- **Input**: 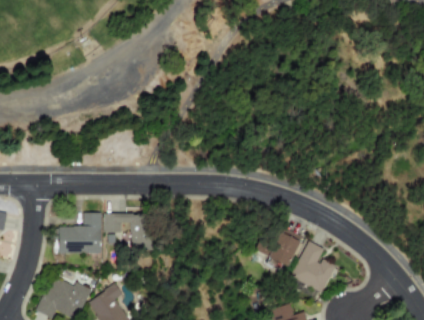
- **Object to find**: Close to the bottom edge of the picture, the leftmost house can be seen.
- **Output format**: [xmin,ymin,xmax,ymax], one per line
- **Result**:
[34,280,90,320]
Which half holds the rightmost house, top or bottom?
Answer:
bottom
